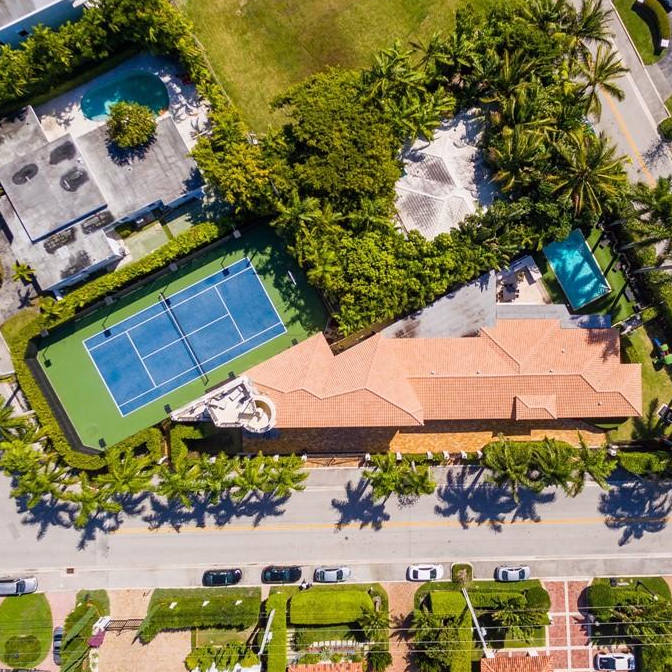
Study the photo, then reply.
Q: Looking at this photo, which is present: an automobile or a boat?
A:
automobile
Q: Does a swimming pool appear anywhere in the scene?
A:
Yes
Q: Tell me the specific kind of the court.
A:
tennis court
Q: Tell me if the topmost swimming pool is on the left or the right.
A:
left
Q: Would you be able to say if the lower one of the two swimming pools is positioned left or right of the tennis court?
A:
to the right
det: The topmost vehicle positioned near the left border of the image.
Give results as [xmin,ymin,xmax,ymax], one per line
[0,575,39,596]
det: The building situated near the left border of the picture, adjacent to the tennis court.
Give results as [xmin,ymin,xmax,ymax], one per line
[0,107,205,290]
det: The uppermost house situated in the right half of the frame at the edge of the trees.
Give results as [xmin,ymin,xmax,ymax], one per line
[395,117,481,243]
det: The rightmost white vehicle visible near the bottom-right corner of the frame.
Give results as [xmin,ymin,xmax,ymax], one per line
[595,651,636,672]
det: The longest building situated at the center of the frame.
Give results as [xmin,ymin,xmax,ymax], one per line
[170,271,643,428]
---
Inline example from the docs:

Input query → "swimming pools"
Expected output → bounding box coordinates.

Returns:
[543,227,614,313]
[79,68,172,125]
